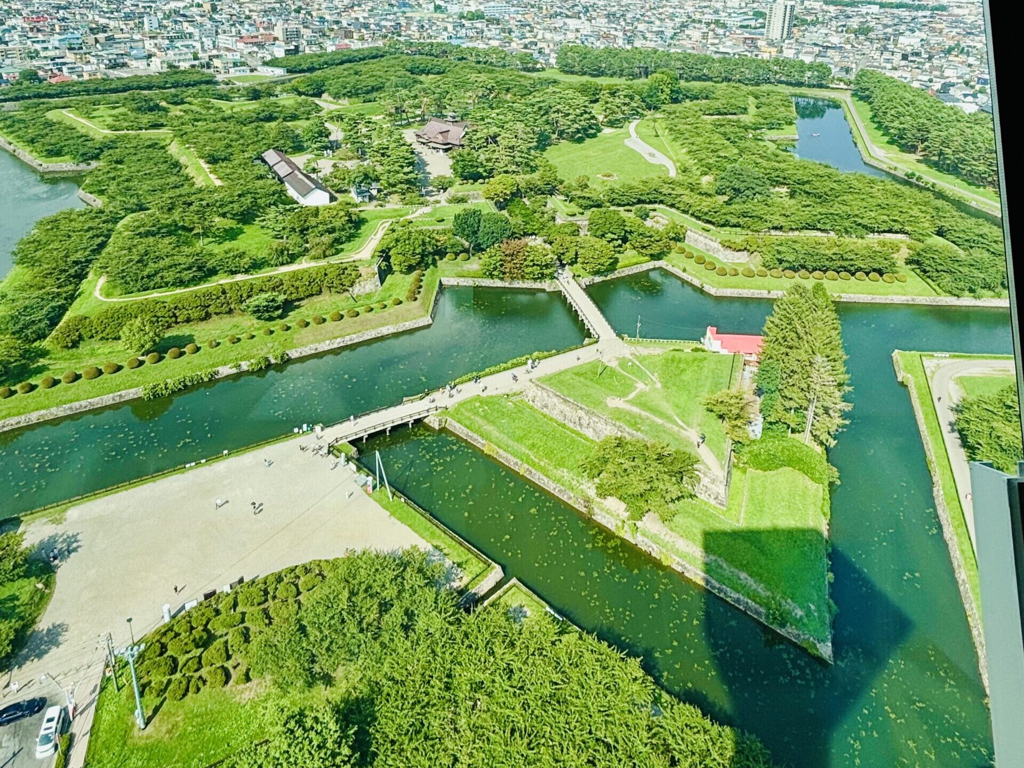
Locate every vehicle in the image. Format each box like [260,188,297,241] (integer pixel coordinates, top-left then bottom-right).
[0,696,47,728]
[37,705,67,760]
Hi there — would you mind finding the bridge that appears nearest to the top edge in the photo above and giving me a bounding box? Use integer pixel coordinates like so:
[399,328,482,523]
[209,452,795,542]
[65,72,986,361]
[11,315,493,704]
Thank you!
[558,275,618,341]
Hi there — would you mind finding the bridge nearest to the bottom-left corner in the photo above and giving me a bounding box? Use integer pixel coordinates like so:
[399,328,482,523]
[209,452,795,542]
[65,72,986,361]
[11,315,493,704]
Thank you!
[307,386,456,453]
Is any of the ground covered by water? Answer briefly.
Yes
